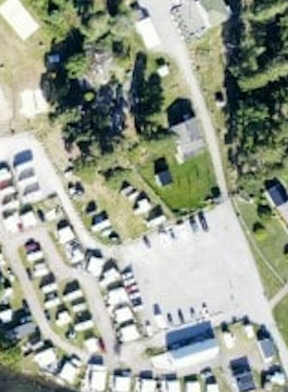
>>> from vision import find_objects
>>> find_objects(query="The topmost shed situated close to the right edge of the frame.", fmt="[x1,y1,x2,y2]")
[265,184,288,206]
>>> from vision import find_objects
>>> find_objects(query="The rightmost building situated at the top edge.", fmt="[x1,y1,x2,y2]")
[189,0,230,27]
